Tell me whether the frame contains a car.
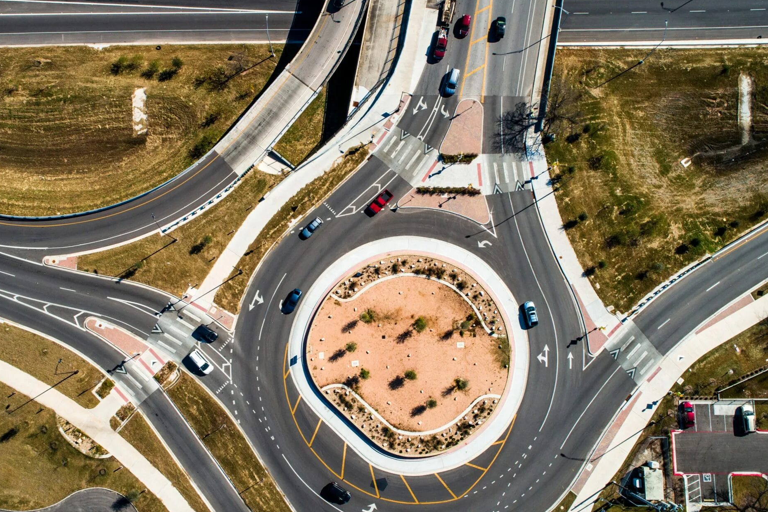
Yes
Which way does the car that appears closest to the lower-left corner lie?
at an angle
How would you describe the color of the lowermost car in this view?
black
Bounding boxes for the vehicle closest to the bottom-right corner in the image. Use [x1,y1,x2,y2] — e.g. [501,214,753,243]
[739,404,758,433]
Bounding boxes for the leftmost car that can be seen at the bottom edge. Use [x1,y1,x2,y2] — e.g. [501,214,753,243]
[325,484,351,504]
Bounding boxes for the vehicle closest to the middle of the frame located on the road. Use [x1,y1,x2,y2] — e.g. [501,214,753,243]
[370,189,394,214]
